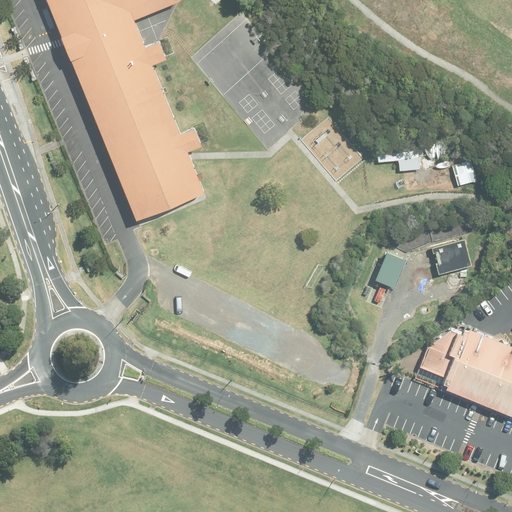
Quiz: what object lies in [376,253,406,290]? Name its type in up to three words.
shed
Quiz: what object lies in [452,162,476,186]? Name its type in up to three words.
shed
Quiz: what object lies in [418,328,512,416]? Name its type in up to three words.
building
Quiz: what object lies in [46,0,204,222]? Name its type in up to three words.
building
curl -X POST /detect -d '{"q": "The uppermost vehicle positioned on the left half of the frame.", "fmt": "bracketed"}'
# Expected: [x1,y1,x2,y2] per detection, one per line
[174,265,191,278]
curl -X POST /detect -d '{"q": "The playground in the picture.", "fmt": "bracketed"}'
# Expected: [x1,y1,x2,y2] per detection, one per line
[302,118,362,181]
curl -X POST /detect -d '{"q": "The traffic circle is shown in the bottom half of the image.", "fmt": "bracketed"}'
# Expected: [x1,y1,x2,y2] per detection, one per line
[50,328,106,384]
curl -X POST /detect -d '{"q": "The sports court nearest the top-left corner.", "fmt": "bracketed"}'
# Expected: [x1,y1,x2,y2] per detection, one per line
[191,12,304,150]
